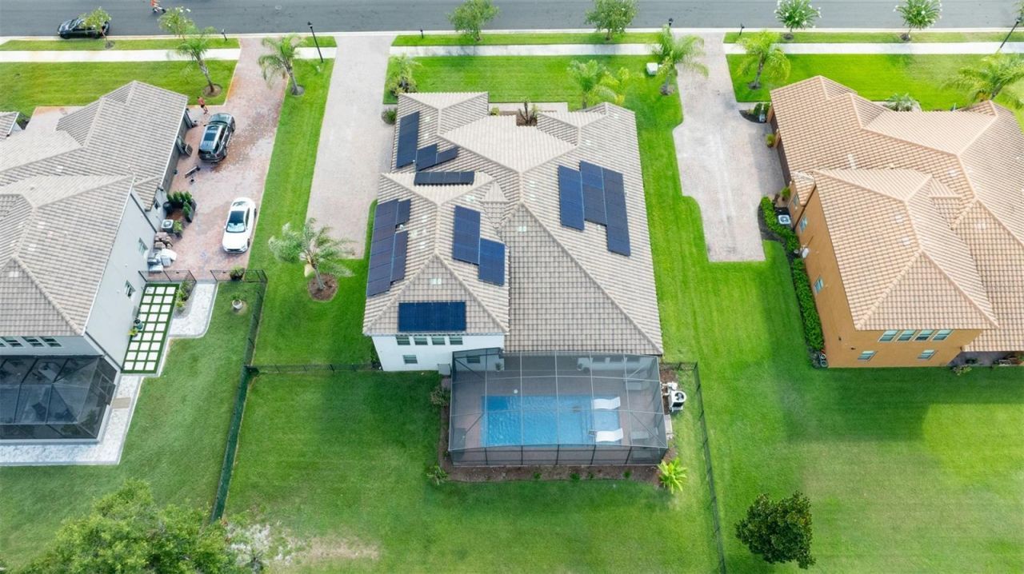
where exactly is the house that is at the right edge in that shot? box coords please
[770,79,1024,370]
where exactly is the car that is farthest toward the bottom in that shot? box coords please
[218,197,256,254]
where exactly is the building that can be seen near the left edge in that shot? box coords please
[0,80,190,370]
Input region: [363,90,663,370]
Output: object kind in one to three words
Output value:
house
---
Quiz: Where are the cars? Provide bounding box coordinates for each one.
[218,197,256,254]
[56,12,110,38]
[196,111,233,160]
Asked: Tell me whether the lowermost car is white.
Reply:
Yes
